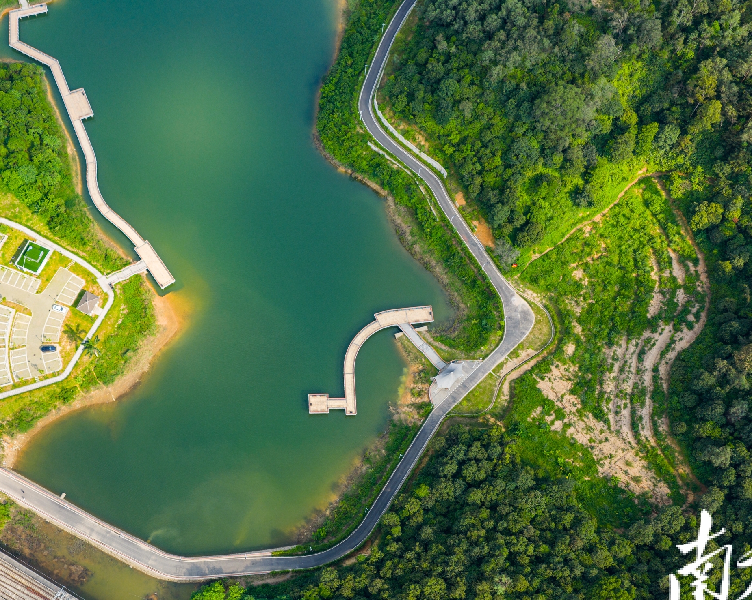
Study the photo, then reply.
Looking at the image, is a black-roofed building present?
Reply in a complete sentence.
No, this view has no black-roofed building in it.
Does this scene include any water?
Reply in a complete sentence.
Yes, there's water in this view.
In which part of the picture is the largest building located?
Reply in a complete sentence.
The largest building is in the left part of the image.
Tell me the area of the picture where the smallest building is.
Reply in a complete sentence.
The smallest building appears toward the left of the photo.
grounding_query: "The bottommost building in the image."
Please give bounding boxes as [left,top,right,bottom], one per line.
[76,291,99,317]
